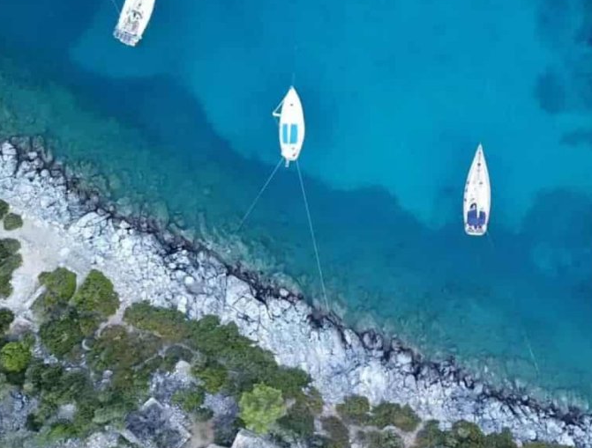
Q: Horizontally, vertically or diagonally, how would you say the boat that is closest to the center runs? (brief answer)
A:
vertically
